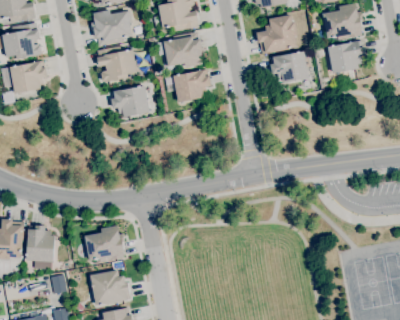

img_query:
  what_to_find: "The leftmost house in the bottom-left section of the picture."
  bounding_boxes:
[0,220,26,260]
